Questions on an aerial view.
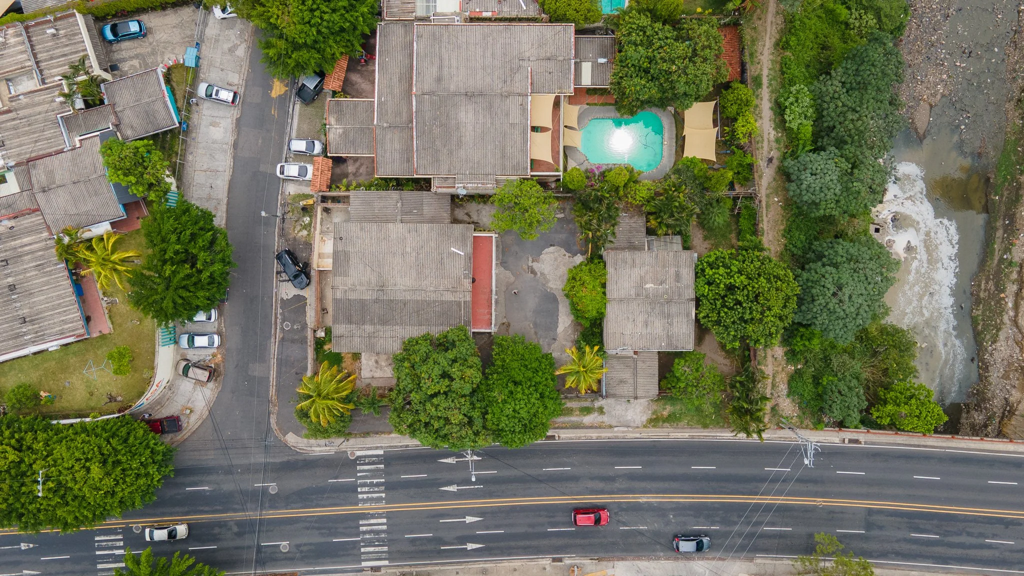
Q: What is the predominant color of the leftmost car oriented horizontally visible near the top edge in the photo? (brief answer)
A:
blue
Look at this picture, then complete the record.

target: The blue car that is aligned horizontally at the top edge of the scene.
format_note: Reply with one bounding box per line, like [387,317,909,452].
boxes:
[104,20,149,42]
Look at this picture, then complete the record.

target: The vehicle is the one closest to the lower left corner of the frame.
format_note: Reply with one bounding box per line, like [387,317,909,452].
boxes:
[146,521,190,542]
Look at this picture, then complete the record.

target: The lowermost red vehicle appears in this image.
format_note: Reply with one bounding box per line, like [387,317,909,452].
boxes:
[572,506,608,527]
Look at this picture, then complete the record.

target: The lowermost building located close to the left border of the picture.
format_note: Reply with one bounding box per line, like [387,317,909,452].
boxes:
[0,209,96,363]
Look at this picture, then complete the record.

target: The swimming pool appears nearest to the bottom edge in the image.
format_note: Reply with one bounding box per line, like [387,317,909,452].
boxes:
[565,106,676,178]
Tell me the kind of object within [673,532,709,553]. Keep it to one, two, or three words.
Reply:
car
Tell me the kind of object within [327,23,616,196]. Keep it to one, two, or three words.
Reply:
house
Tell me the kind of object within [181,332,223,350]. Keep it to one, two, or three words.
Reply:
car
